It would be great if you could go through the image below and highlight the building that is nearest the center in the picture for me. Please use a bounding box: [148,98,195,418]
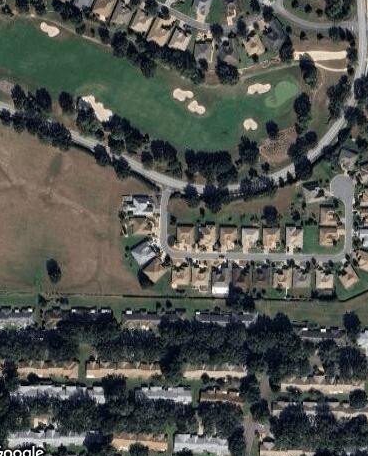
[178,224,195,251]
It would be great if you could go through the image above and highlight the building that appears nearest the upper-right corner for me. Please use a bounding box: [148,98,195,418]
[259,19,291,46]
